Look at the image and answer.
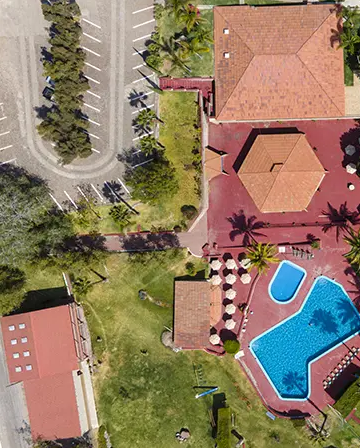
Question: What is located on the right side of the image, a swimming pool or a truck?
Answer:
swimming pool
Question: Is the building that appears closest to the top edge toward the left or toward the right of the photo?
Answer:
right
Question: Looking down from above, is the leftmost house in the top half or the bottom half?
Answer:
bottom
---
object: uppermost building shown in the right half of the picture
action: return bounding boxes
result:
[214,0,360,124]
